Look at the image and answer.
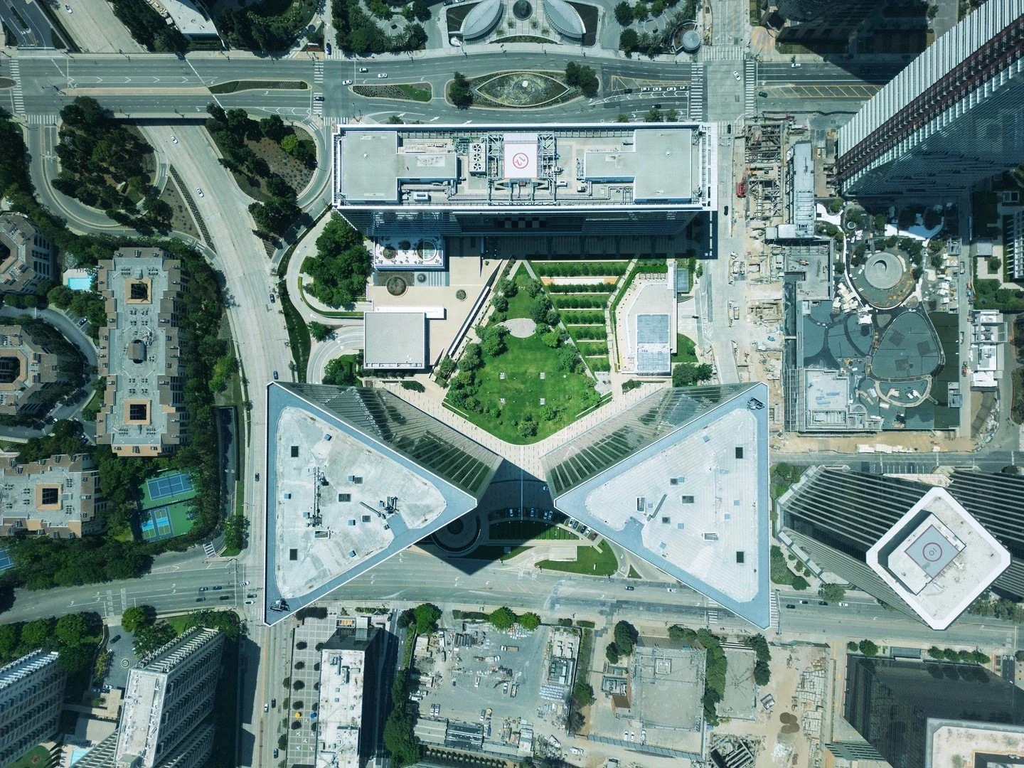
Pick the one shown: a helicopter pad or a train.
helicopter pad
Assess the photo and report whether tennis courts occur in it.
Yes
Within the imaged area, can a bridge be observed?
Yes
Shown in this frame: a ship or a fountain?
fountain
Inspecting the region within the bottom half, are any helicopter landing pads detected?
Yes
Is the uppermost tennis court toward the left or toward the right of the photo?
left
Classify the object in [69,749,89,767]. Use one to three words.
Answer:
swimming pool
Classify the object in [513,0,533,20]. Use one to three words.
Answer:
fountain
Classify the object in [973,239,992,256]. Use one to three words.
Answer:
shed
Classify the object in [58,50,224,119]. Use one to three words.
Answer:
bridge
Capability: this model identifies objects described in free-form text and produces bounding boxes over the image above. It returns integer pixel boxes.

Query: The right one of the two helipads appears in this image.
[904,525,959,579]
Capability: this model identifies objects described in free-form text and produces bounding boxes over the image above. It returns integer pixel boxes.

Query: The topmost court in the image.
[137,467,202,510]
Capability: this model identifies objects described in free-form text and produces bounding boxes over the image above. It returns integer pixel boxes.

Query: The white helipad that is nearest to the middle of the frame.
[504,133,538,178]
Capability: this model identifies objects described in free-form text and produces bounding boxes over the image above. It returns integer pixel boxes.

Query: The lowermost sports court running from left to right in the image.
[140,502,203,542]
